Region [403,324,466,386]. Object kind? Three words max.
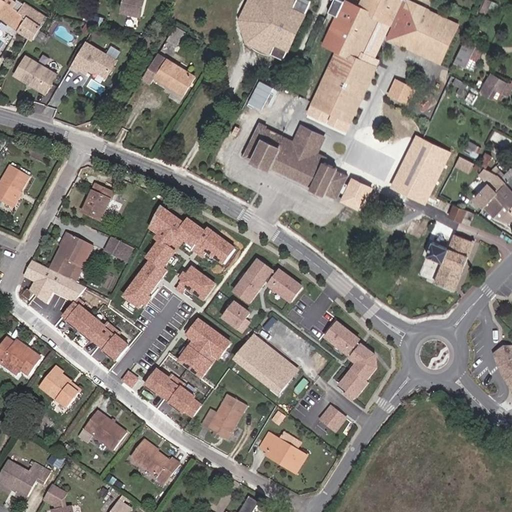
roundabout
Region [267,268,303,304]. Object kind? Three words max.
house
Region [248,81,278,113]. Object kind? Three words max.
shed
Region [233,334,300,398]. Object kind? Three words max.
building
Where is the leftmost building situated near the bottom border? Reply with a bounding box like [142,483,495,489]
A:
[0,458,51,499]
